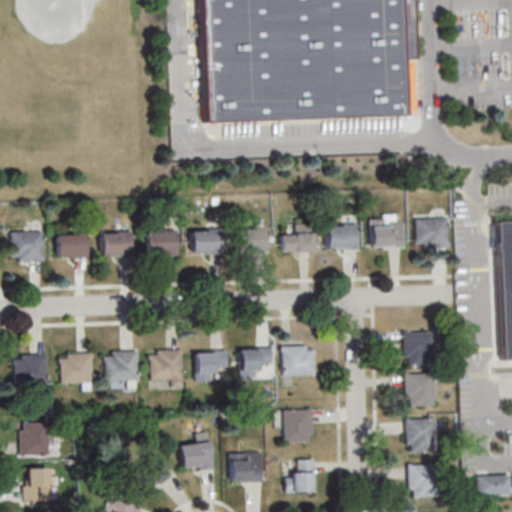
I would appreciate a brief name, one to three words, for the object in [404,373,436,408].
house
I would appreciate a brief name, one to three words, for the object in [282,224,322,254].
house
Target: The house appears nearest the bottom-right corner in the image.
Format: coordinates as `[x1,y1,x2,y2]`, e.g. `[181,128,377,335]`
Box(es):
[477,474,512,501]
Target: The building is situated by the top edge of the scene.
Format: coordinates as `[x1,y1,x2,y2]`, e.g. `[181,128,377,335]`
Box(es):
[202,0,423,122]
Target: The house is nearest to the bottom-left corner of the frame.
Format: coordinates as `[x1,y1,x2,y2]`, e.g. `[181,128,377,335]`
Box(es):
[23,468,55,504]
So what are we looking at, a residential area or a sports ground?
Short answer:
residential area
